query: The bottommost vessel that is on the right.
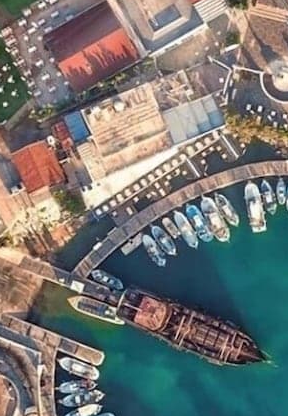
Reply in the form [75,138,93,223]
[106,282,273,365]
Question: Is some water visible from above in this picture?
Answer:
Yes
